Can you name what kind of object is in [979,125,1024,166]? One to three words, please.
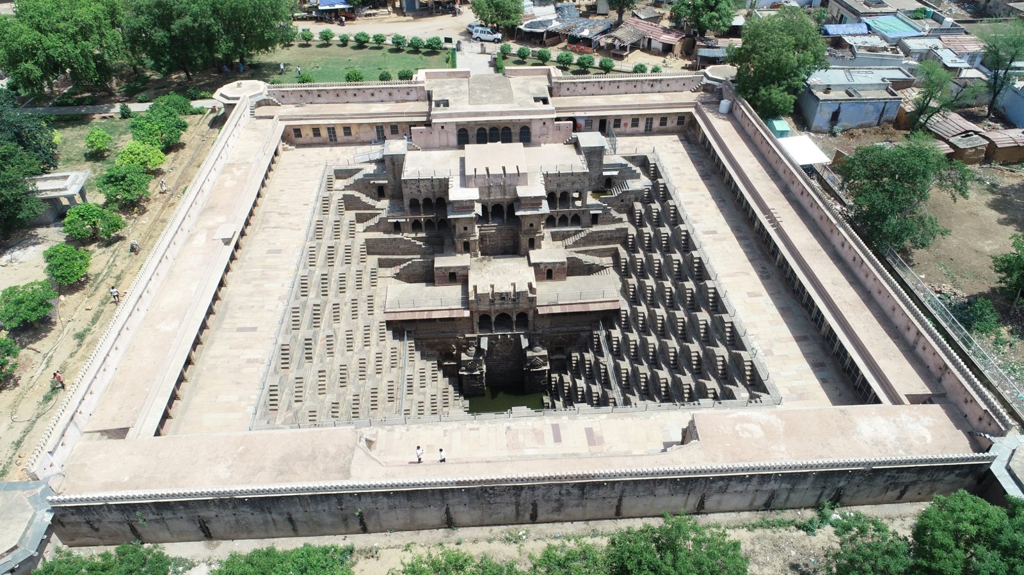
shed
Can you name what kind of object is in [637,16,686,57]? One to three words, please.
shed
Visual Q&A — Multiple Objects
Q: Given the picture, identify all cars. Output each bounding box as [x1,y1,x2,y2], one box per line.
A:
[473,24,506,41]
[464,21,487,31]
